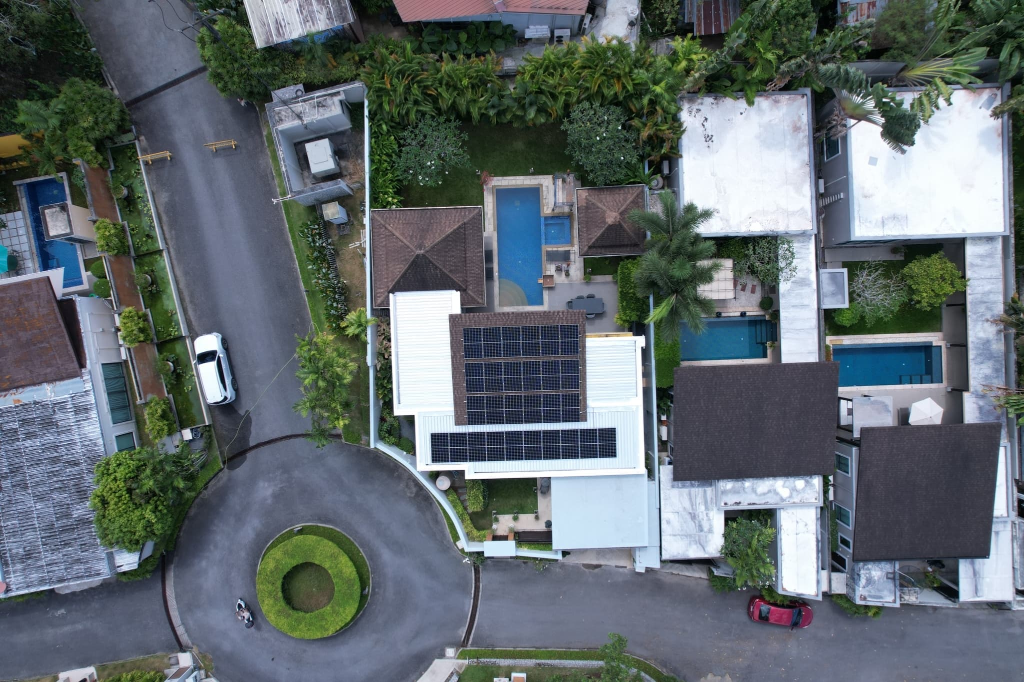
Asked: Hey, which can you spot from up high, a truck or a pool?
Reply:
pool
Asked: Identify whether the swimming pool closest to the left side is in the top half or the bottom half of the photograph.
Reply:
top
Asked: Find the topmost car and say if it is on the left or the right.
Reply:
left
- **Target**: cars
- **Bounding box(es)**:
[746,595,812,632]
[196,335,239,406]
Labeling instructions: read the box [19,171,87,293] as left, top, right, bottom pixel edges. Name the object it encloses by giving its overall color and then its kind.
blue swimming pool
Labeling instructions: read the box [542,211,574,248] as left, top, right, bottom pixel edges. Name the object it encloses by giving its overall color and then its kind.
blue swimming pool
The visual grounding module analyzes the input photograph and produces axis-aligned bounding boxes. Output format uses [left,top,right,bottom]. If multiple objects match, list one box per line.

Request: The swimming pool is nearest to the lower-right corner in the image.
[829,338,947,390]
